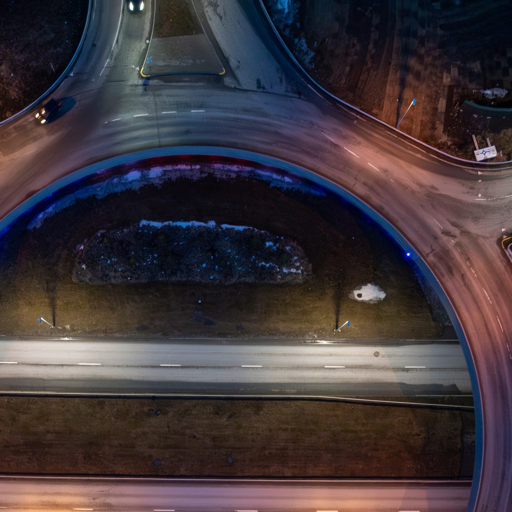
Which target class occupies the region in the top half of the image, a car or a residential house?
car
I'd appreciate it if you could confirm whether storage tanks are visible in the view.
No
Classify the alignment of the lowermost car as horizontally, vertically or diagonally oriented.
diagonally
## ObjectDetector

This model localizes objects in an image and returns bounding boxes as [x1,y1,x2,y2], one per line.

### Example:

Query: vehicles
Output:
[34,94,64,125]
[129,0,143,10]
